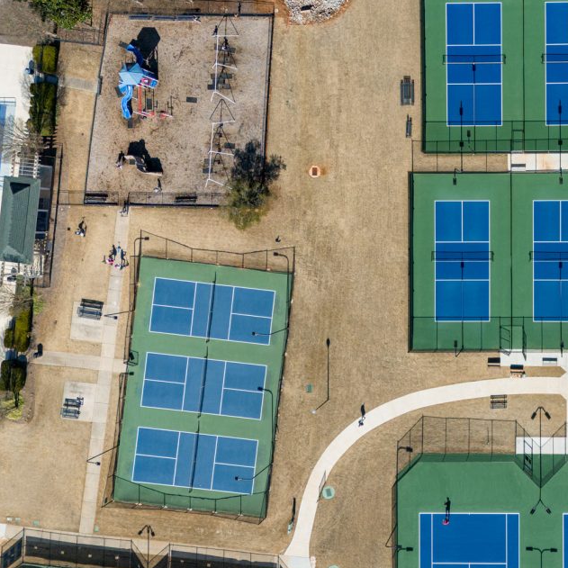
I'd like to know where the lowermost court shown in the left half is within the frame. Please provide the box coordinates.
[113,417,272,517]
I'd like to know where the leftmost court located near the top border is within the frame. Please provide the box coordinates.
[424,0,523,152]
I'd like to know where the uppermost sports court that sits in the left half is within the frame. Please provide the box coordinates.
[133,257,291,355]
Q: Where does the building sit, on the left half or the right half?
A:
left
